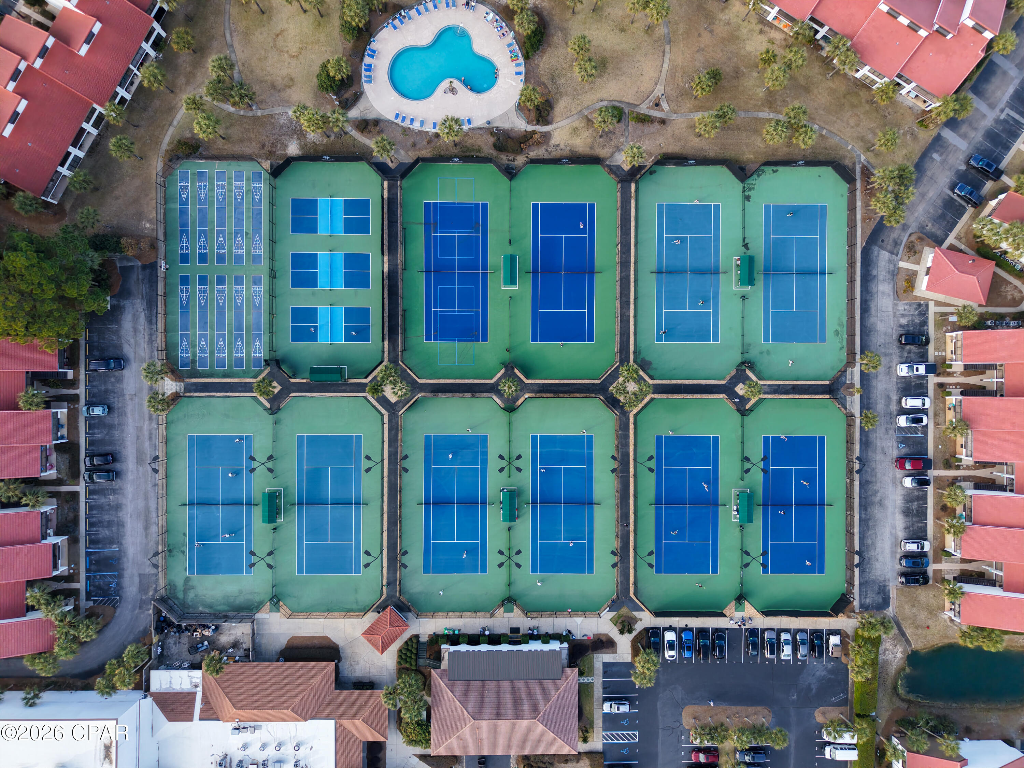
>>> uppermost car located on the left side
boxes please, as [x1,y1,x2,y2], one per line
[90,357,126,371]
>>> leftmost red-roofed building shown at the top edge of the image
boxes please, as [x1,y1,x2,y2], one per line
[0,0,185,204]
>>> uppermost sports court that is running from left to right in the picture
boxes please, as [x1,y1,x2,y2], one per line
[290,198,371,235]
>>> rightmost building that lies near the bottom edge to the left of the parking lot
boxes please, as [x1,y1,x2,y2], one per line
[431,627,579,756]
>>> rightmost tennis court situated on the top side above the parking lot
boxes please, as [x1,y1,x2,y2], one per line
[741,166,847,380]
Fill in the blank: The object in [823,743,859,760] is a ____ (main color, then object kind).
white vehicle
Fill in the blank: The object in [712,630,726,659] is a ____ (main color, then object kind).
black car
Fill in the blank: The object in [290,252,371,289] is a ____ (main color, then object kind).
blue sports court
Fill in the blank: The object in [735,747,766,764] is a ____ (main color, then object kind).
blue car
